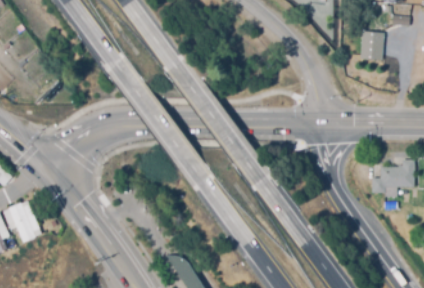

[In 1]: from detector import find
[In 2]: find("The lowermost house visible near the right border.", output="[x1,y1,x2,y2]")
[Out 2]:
[372,162,416,198]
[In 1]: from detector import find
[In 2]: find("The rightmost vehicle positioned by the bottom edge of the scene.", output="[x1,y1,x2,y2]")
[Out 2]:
[390,266,410,288]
